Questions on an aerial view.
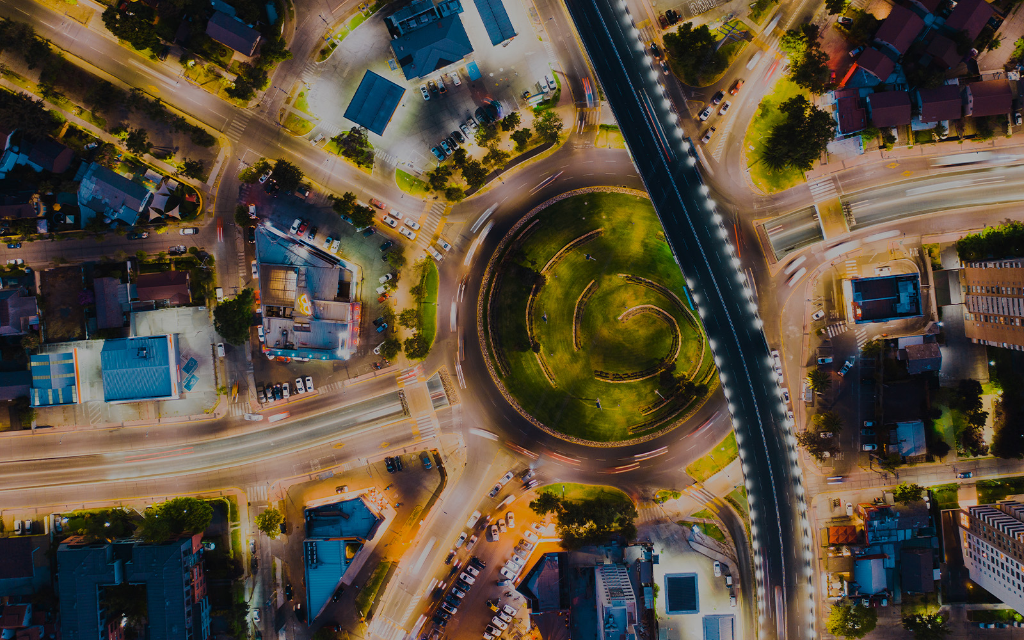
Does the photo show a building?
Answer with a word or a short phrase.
Yes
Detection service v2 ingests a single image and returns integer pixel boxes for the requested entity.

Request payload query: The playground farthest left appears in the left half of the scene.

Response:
[118,165,157,192]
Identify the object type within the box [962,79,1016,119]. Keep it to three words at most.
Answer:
house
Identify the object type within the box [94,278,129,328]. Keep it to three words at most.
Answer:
house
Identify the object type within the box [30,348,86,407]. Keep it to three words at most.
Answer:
building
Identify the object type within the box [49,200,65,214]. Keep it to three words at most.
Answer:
umbrella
